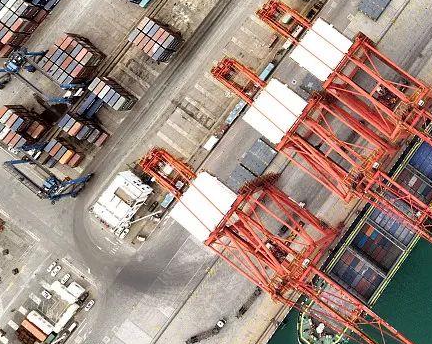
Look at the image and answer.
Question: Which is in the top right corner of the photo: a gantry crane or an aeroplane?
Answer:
gantry crane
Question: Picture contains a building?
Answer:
Yes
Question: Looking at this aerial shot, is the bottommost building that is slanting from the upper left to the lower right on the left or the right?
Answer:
left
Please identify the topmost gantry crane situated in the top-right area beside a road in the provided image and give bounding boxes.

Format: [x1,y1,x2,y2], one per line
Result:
[254,0,432,148]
